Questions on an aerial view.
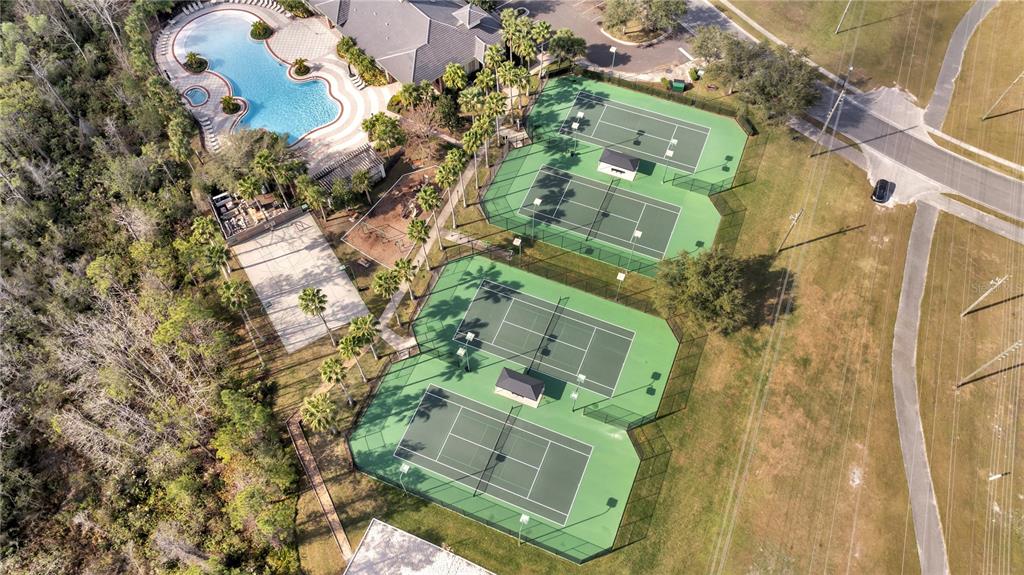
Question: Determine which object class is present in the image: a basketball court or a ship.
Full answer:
Of the two, only a basketball court appears.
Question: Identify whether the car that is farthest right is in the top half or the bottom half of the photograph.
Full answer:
You can find the car that is farthest right in the top half.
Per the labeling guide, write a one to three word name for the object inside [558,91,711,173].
tennis court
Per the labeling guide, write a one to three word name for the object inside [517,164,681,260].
tennis court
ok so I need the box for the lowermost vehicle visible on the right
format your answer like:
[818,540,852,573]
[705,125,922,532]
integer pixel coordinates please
[871,175,894,202]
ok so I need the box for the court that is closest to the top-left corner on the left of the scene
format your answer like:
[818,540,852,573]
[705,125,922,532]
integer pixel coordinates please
[232,213,370,353]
